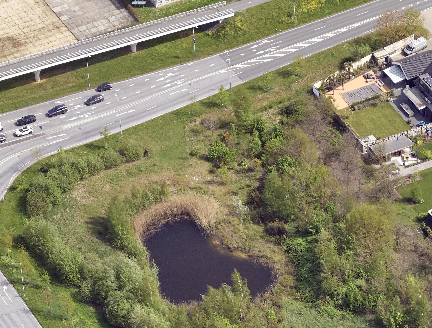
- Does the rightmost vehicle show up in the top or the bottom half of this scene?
top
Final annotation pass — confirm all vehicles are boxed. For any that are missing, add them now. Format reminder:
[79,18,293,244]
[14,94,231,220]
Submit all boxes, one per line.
[403,34,429,55]
[47,103,67,116]
[16,113,37,126]
[0,134,7,142]
[86,93,104,105]
[94,80,115,93]
[14,124,35,137]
